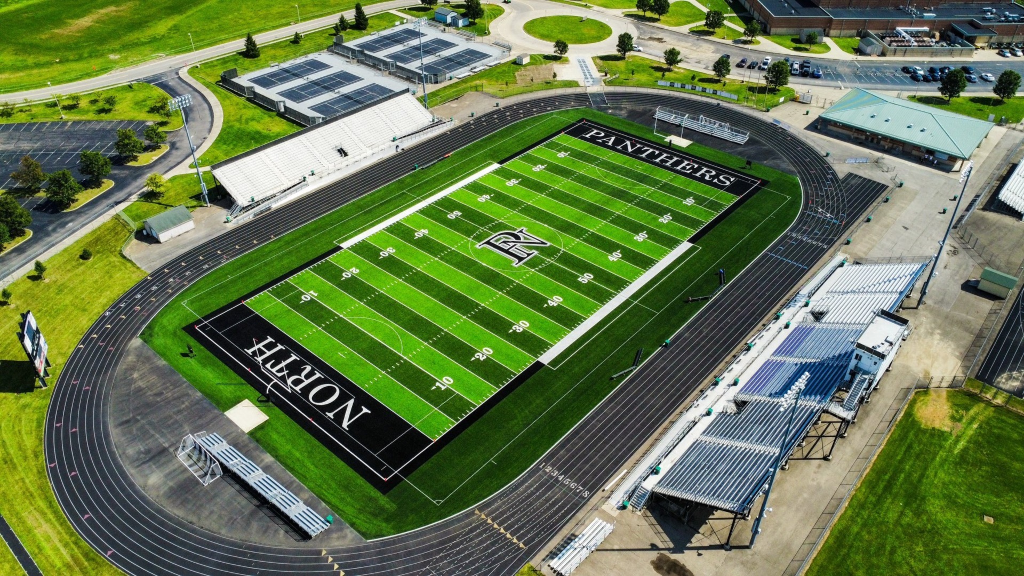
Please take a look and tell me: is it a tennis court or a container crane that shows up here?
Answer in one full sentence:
There is a tennis court in the scene.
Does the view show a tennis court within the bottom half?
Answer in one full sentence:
No, I see no tennis court within the bottom half.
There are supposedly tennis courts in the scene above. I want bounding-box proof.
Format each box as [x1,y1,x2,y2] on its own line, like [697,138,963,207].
[306,83,393,117]
[415,48,491,76]
[276,70,365,103]
[353,28,425,53]
[247,59,333,89]
[383,38,459,65]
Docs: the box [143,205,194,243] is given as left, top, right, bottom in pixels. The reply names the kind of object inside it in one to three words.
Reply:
shed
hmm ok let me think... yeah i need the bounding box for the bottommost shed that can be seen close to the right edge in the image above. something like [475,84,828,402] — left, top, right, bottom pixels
[976,267,1021,299]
